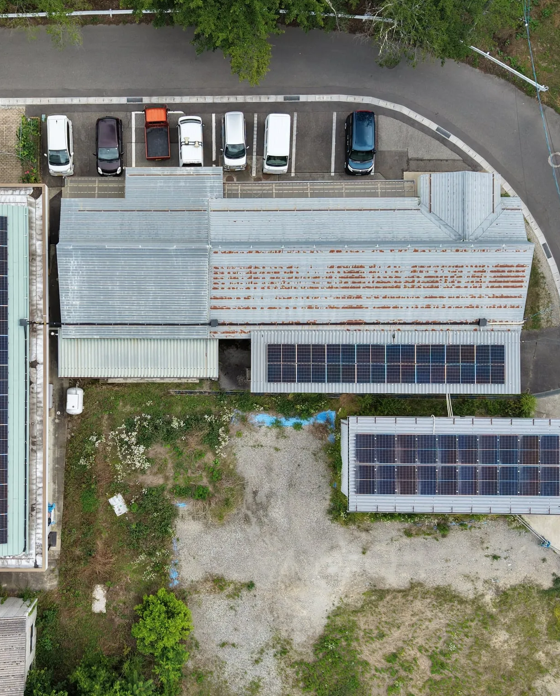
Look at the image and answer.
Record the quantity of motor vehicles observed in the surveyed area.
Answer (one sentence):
In total, there are 7 motor vehicles in the scene.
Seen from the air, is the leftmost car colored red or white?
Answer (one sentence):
In this view, the leftmost car is white.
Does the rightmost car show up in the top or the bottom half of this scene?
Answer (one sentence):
The rightmost car is in the top half of the image.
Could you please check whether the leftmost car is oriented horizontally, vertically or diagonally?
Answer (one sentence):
In this picture, the leftmost car lies vertically.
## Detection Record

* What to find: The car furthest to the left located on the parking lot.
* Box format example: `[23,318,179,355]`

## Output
[45,119,75,177]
